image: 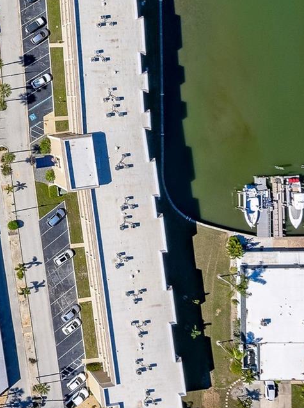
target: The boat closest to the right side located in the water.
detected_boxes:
[287,176,304,227]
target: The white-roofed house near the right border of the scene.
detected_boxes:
[233,249,304,380]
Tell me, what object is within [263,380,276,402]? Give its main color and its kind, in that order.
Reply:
white vehicle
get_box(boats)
[245,185,261,228]
[287,176,304,227]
